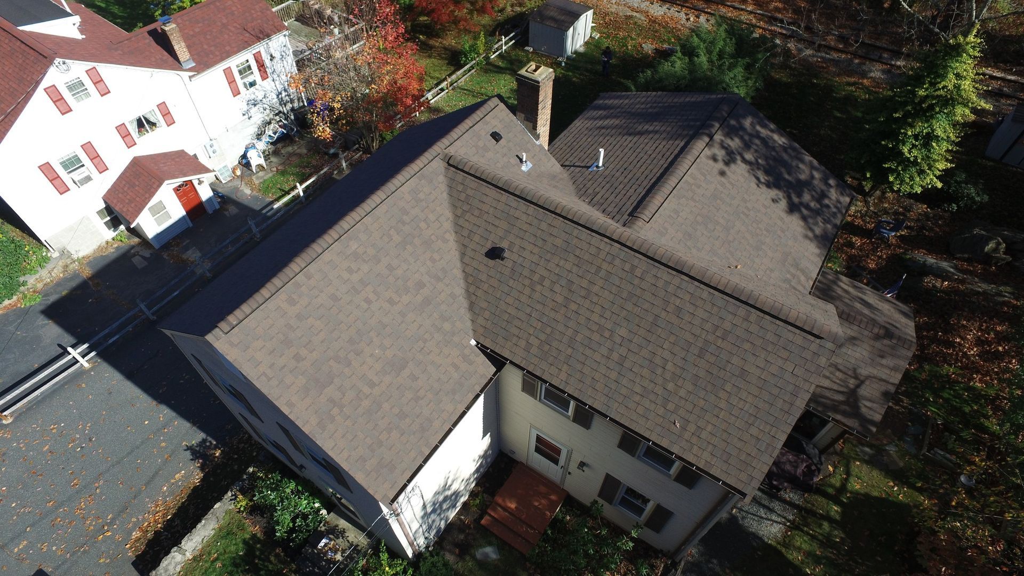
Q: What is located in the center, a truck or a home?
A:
home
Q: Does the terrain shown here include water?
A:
No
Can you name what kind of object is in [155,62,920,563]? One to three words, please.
house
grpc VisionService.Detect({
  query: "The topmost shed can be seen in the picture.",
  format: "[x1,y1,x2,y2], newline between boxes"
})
[529,0,596,57]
